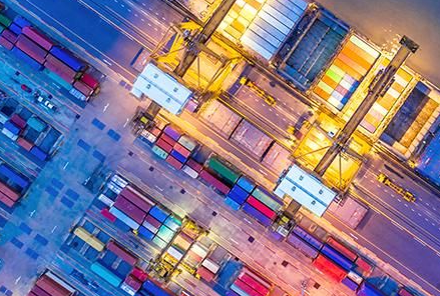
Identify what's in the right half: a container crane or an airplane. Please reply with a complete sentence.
There is a container crane in the right half.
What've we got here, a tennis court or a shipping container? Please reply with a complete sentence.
The one in the frame is a shipping container.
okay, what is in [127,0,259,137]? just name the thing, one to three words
container crane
